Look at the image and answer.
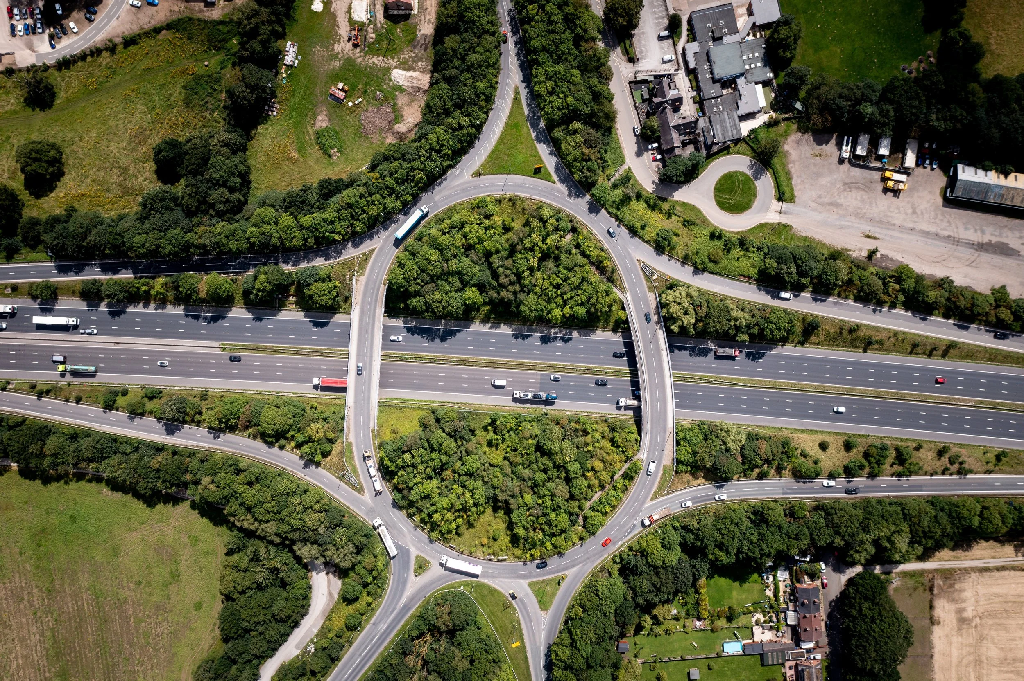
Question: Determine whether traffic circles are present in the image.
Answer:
Yes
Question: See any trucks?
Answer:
Yes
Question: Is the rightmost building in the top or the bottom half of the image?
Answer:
top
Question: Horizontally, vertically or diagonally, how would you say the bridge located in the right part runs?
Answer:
vertically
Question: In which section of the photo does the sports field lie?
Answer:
top right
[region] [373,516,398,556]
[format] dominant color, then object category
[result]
white truck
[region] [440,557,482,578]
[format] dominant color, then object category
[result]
white truck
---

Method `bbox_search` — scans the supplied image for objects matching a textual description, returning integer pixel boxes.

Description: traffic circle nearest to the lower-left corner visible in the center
[352,174,668,583]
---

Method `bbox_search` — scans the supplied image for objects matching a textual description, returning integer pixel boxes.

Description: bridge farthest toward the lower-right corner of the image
[623,290,677,465]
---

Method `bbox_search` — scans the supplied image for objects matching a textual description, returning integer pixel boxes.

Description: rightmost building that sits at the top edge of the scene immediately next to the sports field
[683,0,781,146]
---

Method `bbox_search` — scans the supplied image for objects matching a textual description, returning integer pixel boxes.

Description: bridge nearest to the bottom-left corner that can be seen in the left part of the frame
[343,277,388,441]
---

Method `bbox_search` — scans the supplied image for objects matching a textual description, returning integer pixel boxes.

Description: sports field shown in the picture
[779,0,938,81]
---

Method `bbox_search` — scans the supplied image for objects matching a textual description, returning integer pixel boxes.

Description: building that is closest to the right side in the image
[946,163,1024,210]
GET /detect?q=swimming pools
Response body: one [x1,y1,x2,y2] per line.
[722,641,742,653]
